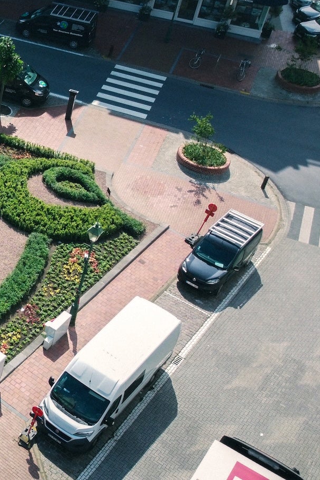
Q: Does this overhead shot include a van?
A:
Yes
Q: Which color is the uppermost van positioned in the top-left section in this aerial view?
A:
black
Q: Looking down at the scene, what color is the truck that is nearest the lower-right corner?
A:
white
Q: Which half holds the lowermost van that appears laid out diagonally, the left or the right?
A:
left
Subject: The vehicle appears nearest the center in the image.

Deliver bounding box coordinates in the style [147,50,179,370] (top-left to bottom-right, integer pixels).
[182,214,265,301]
